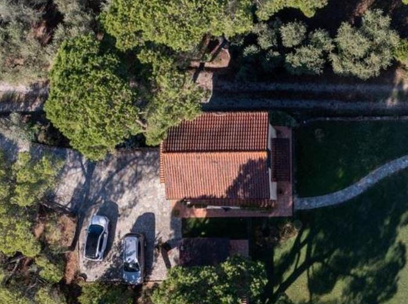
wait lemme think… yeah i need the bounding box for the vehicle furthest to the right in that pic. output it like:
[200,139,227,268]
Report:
[119,234,144,283]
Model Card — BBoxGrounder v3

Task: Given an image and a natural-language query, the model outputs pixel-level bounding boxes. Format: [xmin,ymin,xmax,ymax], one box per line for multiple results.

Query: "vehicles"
[119,234,144,283]
[84,216,110,260]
